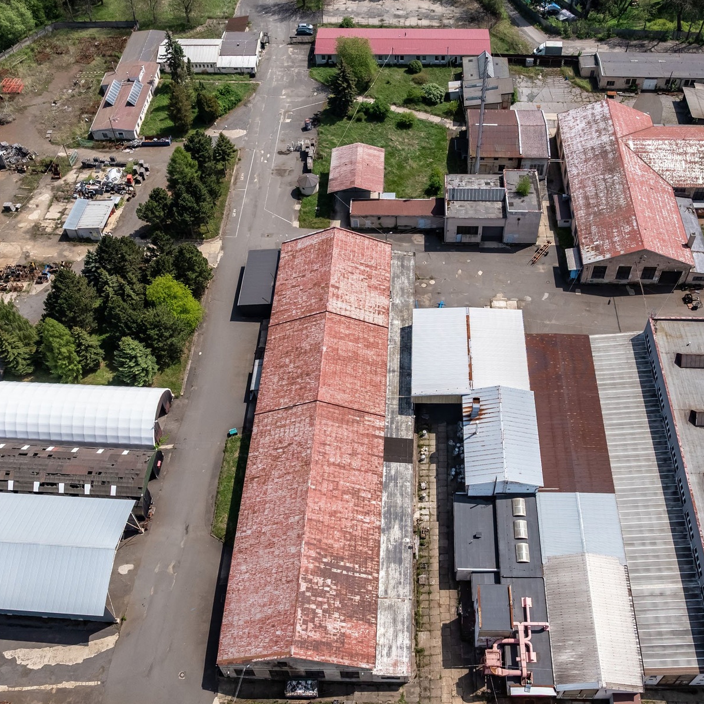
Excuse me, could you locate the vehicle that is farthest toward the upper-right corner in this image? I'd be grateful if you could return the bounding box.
[533,42,565,57]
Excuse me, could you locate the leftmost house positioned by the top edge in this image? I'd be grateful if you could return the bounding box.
[92,32,171,146]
